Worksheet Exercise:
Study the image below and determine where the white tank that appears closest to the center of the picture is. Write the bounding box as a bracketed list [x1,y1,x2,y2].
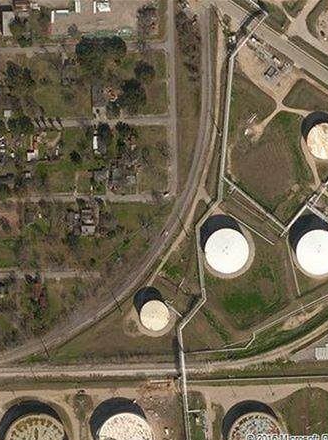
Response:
[205,228,251,275]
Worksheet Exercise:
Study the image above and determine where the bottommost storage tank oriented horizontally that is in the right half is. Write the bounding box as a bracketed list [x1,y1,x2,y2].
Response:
[227,411,286,440]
